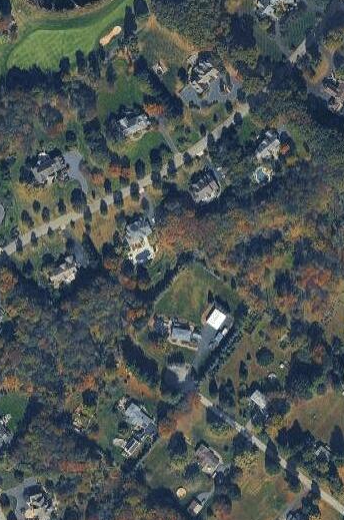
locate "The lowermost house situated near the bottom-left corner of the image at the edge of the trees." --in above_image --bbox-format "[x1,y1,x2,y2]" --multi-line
[28,493,52,520]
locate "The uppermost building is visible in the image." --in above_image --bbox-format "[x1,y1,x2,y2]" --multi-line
[262,0,296,19]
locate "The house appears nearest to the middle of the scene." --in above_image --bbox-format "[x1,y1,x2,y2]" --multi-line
[124,217,155,245]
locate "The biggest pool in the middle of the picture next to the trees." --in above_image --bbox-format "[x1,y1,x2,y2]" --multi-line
[127,241,156,265]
